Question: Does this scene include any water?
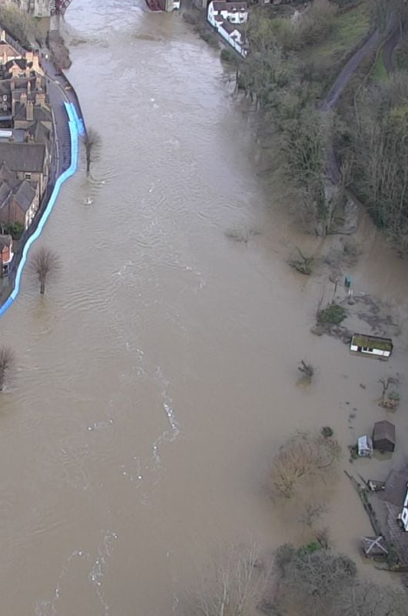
Yes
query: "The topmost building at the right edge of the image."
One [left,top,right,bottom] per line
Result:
[349,328,395,361]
